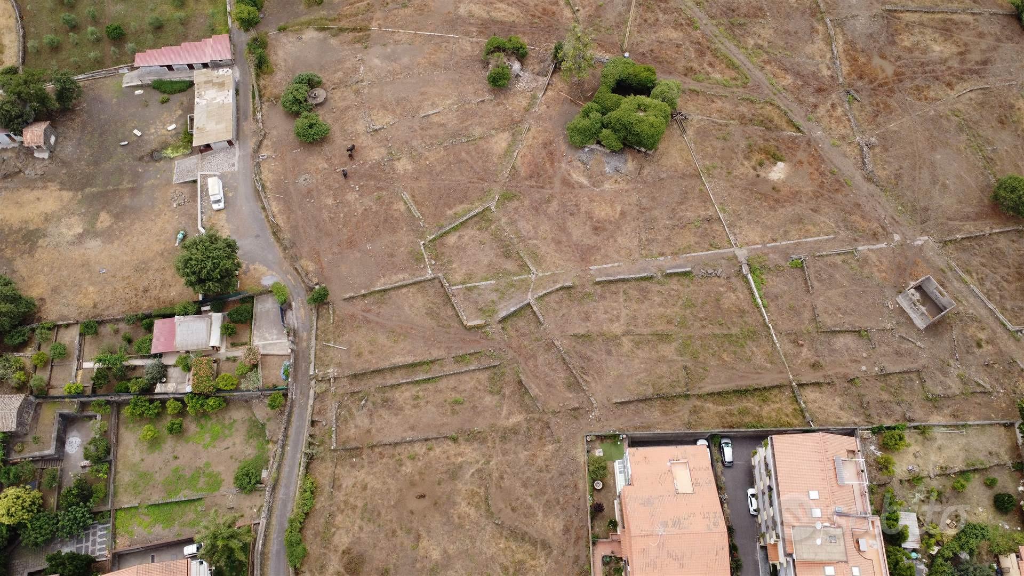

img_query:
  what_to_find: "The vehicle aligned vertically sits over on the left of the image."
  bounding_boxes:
[208,175,224,210]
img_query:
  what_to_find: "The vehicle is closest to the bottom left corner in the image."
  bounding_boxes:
[178,542,199,557]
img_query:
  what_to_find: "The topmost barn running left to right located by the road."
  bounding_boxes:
[134,34,234,73]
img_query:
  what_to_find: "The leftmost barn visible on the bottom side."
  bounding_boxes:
[0,394,37,436]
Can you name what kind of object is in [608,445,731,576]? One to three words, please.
house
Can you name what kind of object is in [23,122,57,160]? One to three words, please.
shed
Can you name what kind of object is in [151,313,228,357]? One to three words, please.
house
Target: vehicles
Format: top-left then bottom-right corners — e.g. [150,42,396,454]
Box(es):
[696,439,713,464]
[744,488,756,517]
[718,439,735,467]
[208,175,224,210]
[178,542,199,557]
